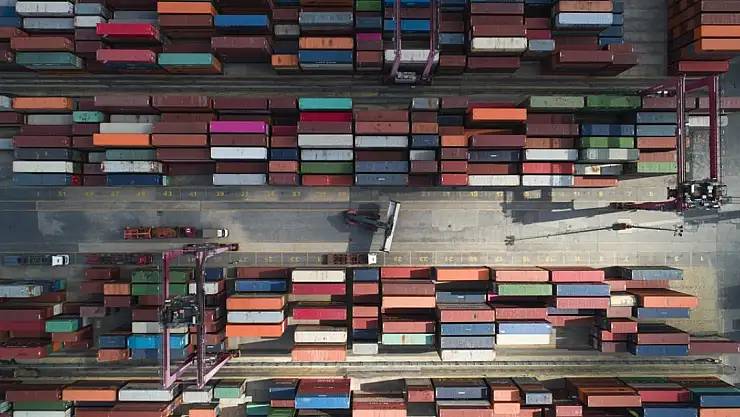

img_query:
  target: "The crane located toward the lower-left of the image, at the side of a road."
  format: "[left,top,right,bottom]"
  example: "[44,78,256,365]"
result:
[154,243,245,390]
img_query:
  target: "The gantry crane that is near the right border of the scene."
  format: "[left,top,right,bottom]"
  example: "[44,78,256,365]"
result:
[613,74,723,210]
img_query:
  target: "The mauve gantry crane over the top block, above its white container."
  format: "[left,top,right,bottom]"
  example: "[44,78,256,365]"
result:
[379,0,439,79]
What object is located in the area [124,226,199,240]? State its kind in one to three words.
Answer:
vehicle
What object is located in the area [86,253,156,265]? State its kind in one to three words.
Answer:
vehicle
